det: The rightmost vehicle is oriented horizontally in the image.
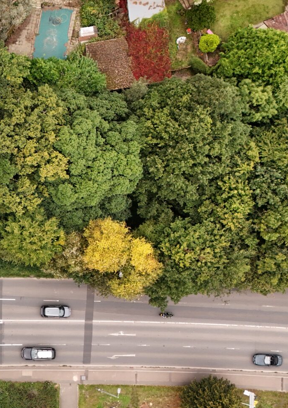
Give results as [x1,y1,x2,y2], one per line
[250,352,283,368]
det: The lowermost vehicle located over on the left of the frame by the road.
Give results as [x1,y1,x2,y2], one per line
[20,345,57,362]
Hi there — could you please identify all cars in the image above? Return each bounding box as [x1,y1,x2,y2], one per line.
[250,352,283,368]
[39,304,71,320]
[20,345,57,362]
